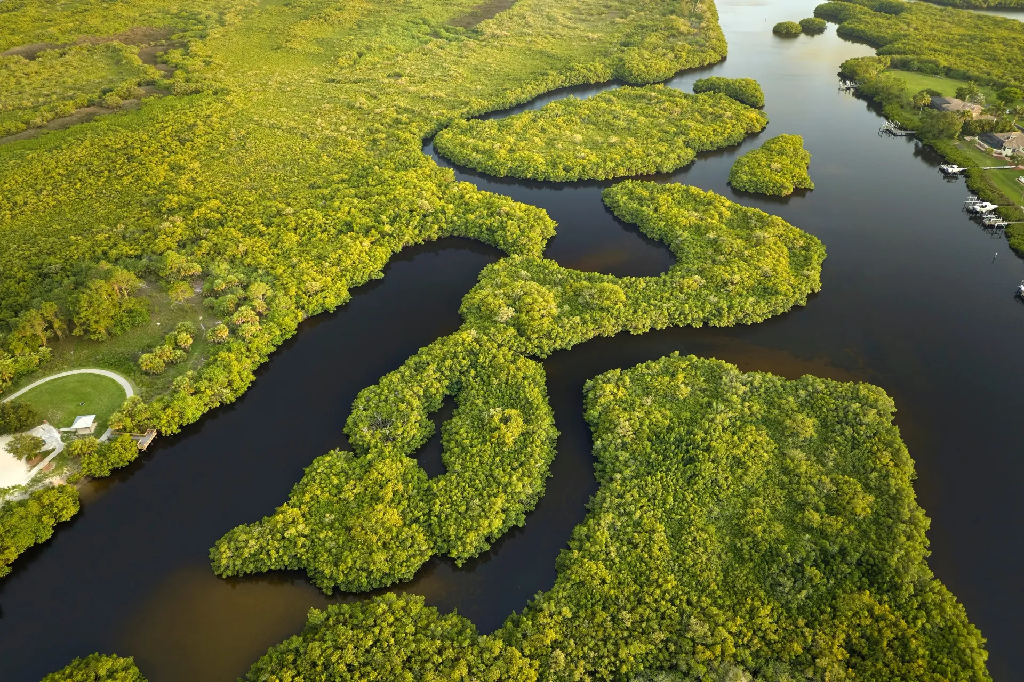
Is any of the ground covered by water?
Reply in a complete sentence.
Yes, some water is visible.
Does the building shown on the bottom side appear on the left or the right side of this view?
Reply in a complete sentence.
The building shown on the bottom side is on the left side of the image.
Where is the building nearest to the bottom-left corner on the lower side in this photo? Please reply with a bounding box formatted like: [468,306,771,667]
[70,414,101,436]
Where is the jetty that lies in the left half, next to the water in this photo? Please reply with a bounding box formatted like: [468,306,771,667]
[104,430,158,454]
